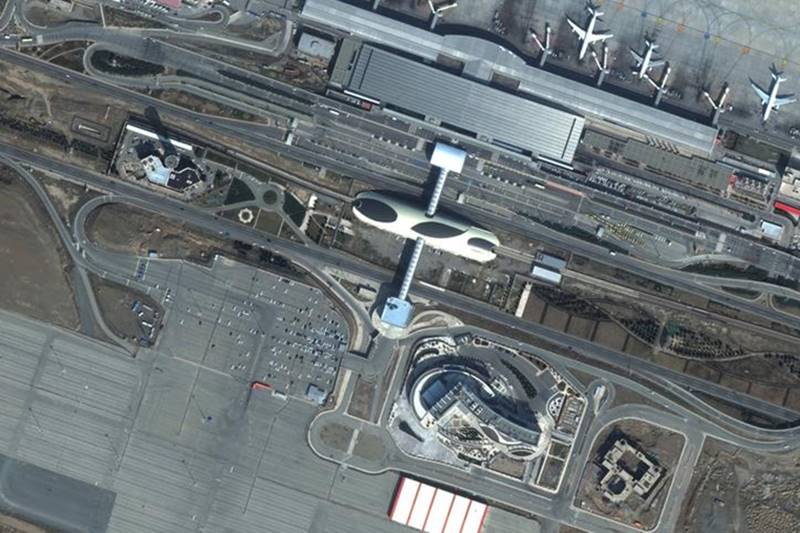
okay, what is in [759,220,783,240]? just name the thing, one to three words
shed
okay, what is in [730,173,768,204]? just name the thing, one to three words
building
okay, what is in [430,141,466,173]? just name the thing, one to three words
building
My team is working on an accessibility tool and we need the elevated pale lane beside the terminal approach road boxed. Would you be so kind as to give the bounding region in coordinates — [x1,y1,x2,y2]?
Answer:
[195,80,317,126]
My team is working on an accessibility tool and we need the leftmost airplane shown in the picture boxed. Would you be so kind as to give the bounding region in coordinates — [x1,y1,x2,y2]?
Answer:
[568,7,615,59]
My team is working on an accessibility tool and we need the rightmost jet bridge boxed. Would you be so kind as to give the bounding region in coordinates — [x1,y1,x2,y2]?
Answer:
[703,87,730,126]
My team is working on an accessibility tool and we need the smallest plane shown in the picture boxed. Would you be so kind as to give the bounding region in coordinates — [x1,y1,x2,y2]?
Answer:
[631,38,666,77]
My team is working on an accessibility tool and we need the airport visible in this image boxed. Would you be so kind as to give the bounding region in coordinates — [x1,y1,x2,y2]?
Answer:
[340,0,800,168]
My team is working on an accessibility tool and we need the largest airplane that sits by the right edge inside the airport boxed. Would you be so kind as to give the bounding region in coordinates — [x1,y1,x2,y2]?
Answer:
[752,70,798,120]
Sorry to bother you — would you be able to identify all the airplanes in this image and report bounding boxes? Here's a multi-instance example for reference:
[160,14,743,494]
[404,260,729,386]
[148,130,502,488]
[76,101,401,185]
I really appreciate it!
[631,38,666,77]
[752,70,798,120]
[568,7,615,59]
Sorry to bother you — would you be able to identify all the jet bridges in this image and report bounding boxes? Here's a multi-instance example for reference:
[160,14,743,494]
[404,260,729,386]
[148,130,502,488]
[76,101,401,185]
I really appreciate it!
[372,0,379,12]
[591,47,609,88]
[429,0,459,30]
[703,87,730,126]
[643,67,672,106]
[530,24,552,67]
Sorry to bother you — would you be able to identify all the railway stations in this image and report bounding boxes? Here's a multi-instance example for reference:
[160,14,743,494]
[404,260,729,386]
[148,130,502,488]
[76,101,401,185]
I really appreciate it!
[352,192,501,263]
